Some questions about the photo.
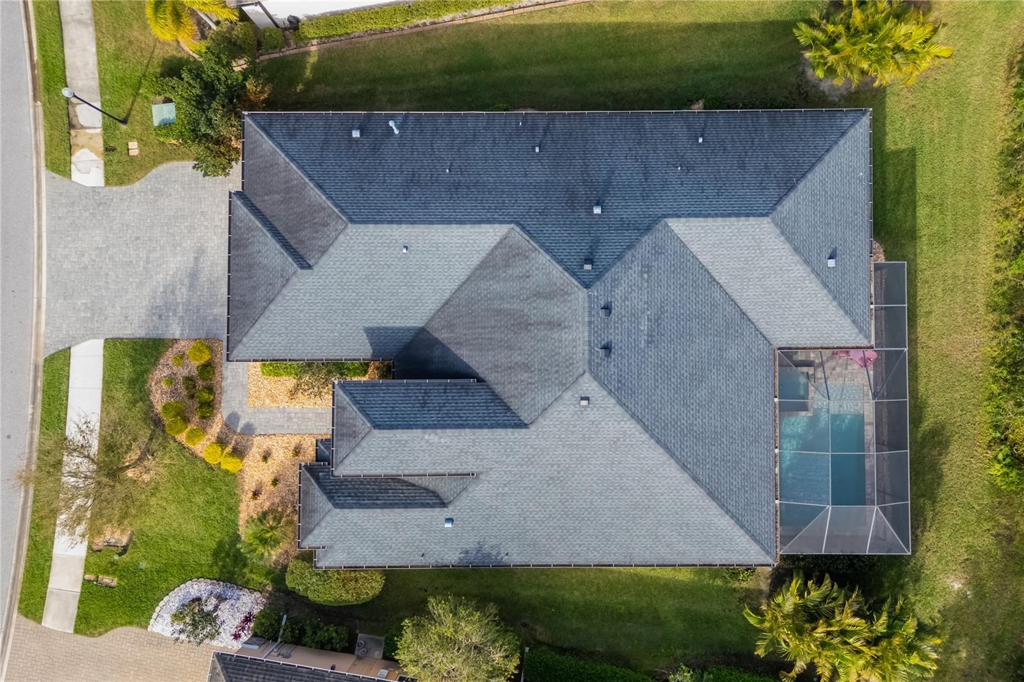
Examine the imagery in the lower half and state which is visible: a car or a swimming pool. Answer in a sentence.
Visible in the lower half is a swimming pool.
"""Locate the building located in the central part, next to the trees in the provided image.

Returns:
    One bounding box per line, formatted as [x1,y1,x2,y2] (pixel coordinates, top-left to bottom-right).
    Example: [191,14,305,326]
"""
[225,108,875,569]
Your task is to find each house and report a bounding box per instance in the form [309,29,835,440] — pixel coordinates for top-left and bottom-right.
[229,0,411,30]
[225,108,875,569]
[206,615,440,682]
